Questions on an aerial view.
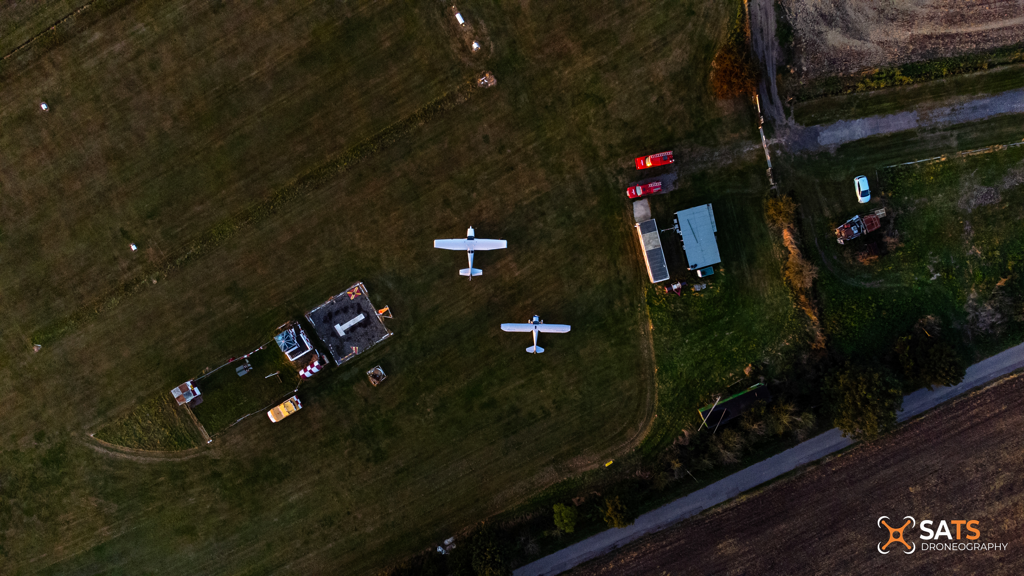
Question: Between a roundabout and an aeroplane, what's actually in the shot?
aeroplane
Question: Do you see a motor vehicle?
Yes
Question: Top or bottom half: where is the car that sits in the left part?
bottom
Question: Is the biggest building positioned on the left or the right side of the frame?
right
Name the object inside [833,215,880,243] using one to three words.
work vehicle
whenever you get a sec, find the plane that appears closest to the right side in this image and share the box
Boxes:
[501,315,571,352]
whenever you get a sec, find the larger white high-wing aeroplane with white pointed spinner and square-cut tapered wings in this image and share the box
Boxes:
[434,226,507,281]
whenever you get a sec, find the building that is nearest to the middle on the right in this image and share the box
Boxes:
[636,219,670,283]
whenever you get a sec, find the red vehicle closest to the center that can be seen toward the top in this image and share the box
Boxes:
[626,181,662,198]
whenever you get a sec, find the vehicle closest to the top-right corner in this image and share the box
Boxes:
[852,176,870,204]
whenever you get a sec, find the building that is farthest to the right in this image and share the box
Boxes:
[674,204,721,271]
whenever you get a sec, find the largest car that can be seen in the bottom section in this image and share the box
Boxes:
[268,395,304,422]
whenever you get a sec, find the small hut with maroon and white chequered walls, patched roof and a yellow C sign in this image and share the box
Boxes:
[170,380,202,406]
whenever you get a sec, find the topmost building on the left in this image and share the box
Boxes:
[273,321,318,361]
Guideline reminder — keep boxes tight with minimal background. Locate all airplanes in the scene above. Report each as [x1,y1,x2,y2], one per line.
[434,226,507,281]
[501,315,571,352]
